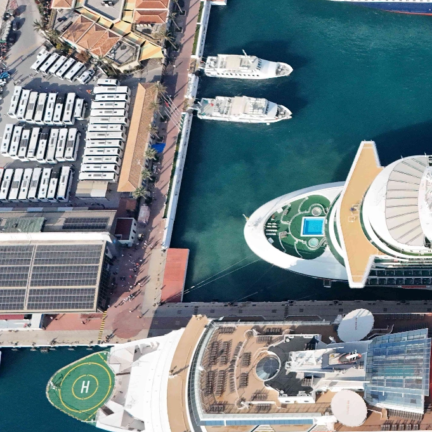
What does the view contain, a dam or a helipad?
helipad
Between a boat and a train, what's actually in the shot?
boat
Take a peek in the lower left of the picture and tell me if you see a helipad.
Yes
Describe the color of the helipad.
green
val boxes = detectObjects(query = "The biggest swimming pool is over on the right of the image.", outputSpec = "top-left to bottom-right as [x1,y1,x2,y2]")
[301,217,326,237]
